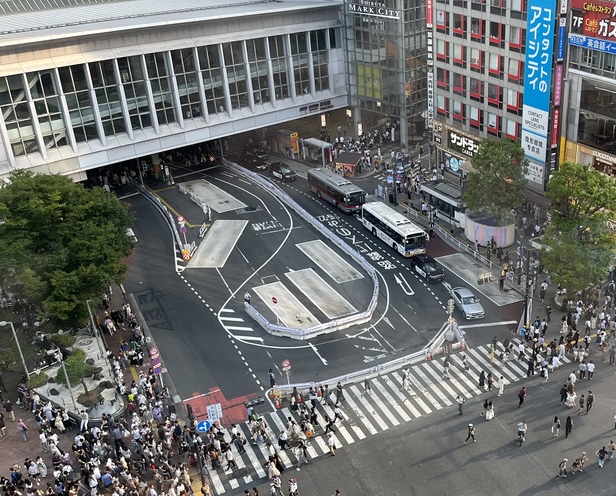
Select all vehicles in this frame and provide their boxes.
[243,151,270,169]
[309,168,374,218]
[271,162,298,181]
[362,195,432,254]
[407,249,443,280]
[446,285,487,318]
